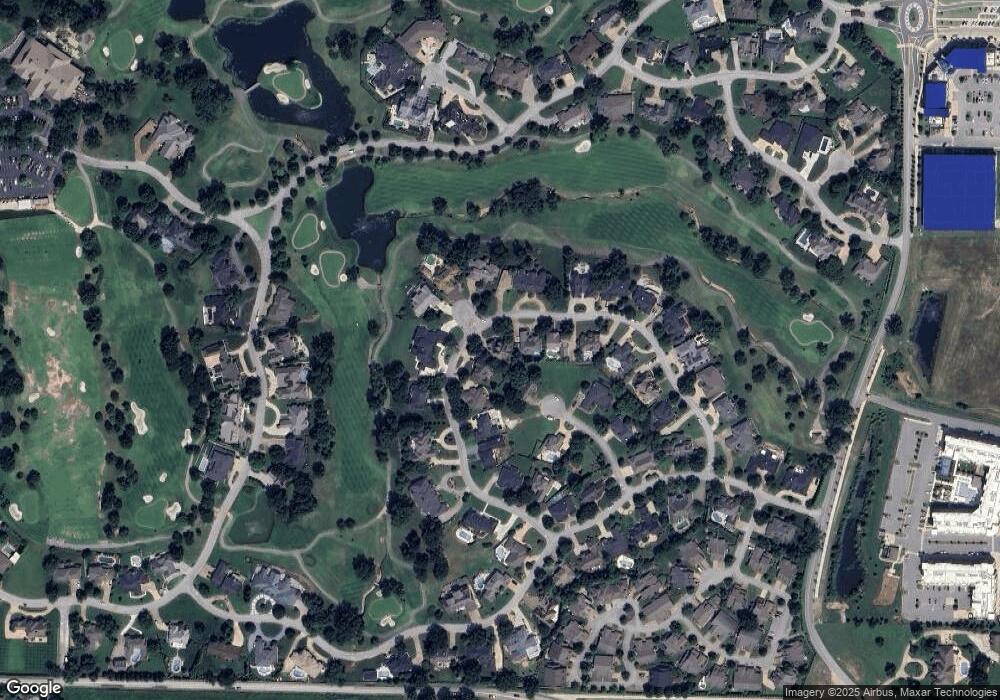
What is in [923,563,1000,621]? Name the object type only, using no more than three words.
building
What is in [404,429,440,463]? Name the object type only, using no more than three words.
house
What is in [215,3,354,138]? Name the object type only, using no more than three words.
pond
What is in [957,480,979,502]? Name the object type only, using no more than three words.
swimming pool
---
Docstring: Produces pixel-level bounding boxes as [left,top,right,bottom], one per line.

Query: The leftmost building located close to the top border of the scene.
[14,34,86,103]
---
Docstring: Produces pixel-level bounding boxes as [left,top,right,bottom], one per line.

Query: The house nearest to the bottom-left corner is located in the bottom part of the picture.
[18,621,57,642]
